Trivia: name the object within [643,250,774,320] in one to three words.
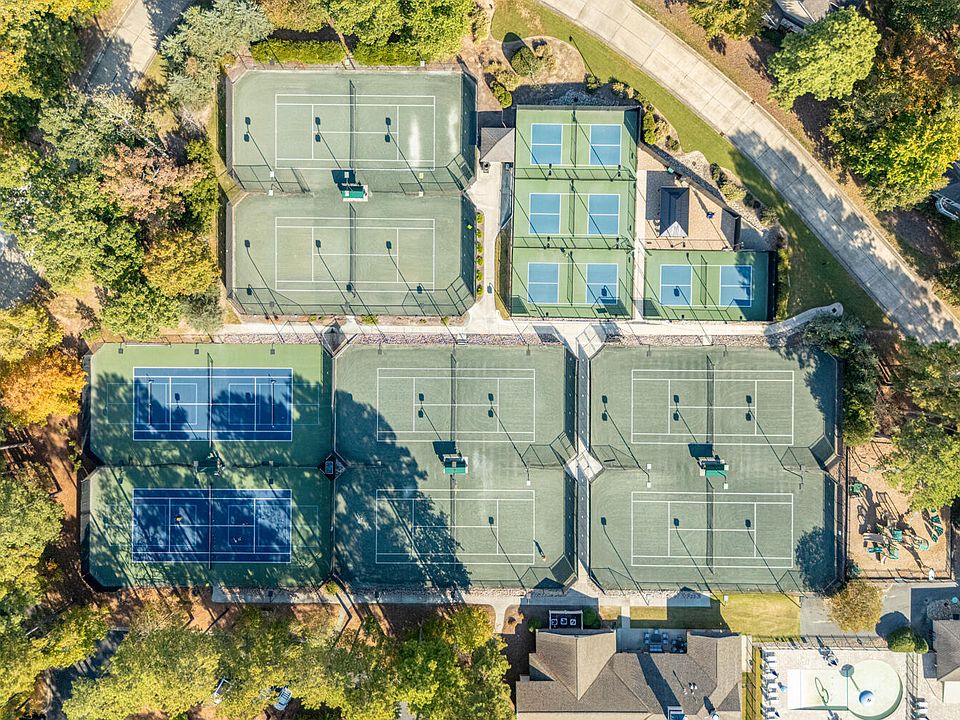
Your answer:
sports court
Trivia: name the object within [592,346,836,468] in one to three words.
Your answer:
tennis court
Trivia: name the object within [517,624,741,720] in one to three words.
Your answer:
building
